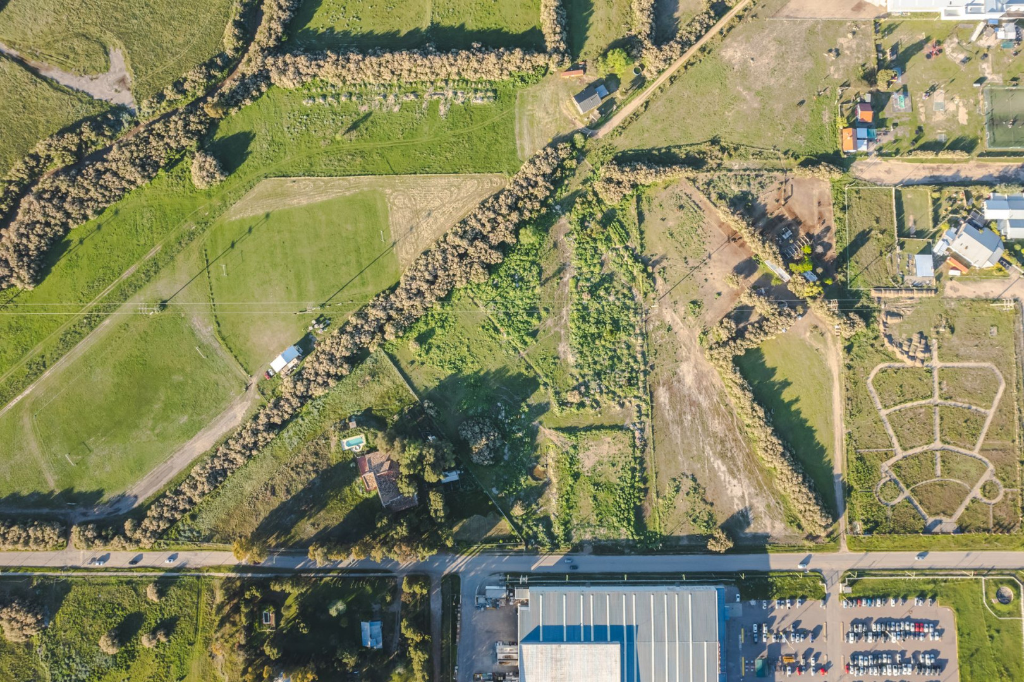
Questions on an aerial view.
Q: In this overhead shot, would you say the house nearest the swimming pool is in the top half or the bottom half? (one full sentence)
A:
The house nearest the swimming pool is in the bottom half of the image.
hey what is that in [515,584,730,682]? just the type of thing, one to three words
building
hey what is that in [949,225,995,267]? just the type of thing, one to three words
house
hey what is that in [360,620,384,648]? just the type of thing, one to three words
house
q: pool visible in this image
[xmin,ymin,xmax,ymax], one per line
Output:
[340,436,364,453]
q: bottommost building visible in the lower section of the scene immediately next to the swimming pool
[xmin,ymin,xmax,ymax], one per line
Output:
[357,449,418,512]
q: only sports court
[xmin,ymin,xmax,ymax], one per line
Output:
[986,86,1024,148]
